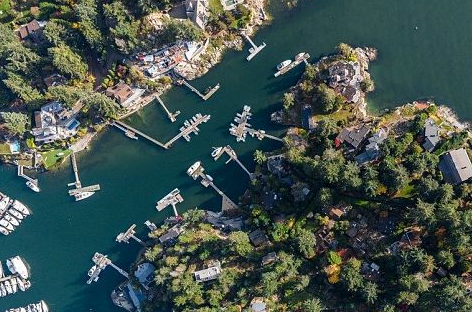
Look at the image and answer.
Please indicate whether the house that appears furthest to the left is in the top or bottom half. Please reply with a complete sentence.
The house that appears furthest to the left is in the top half of the image.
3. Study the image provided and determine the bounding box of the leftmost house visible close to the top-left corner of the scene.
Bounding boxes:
[17,16,45,42]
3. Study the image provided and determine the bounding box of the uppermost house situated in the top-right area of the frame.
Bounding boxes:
[329,59,362,104]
